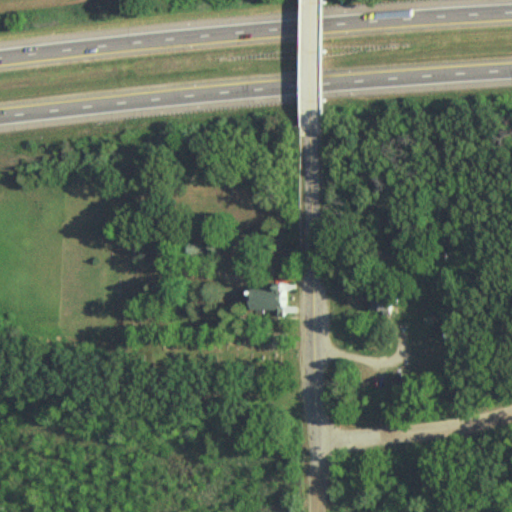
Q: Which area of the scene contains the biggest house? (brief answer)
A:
center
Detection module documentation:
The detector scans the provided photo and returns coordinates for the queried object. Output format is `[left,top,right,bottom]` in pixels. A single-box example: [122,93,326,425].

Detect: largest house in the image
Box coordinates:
[248,286,282,310]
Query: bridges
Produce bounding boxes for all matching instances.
[298,0,325,134]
